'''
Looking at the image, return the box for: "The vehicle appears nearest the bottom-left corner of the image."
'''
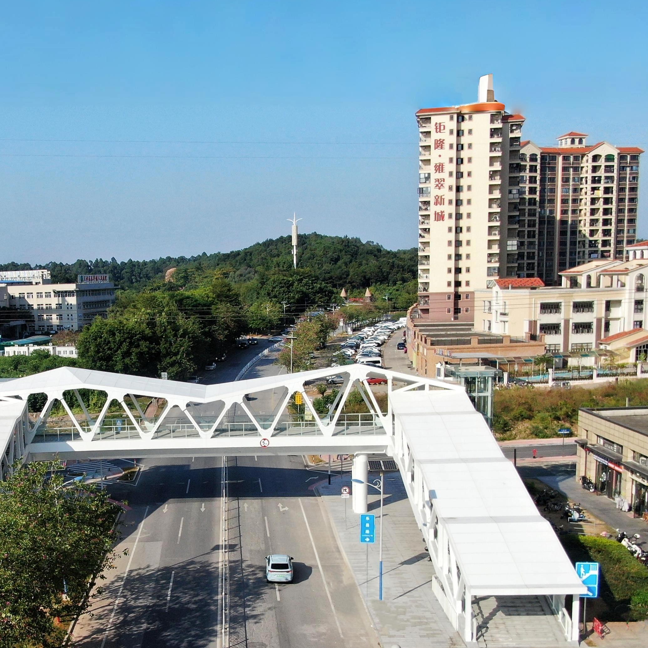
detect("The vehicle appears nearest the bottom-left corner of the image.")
[263,549,296,583]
